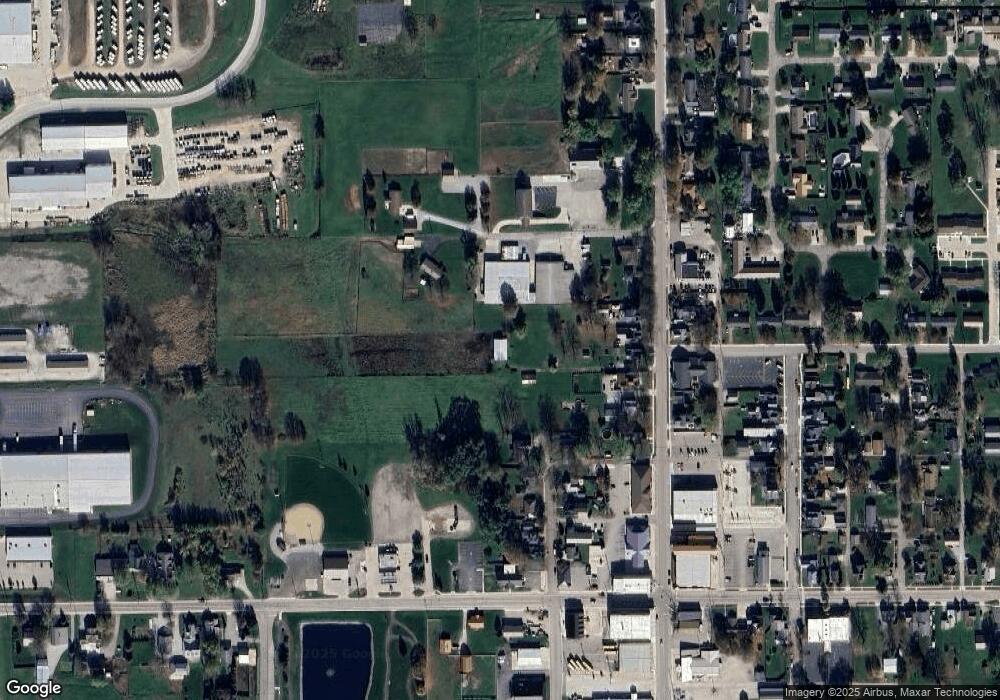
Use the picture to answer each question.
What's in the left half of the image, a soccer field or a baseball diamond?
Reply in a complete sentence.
Looking in the left half of the image, you will find a baseball diamond.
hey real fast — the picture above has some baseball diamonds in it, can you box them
[277,456,372,547]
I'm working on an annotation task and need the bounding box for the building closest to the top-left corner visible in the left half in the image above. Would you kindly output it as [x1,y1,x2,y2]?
[0,3,30,62]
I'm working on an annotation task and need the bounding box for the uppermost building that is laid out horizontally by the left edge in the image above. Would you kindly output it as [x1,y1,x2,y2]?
[41,126,127,149]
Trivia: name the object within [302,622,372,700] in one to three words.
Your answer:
pond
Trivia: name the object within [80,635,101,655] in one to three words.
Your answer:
house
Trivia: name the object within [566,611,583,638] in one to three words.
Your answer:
building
